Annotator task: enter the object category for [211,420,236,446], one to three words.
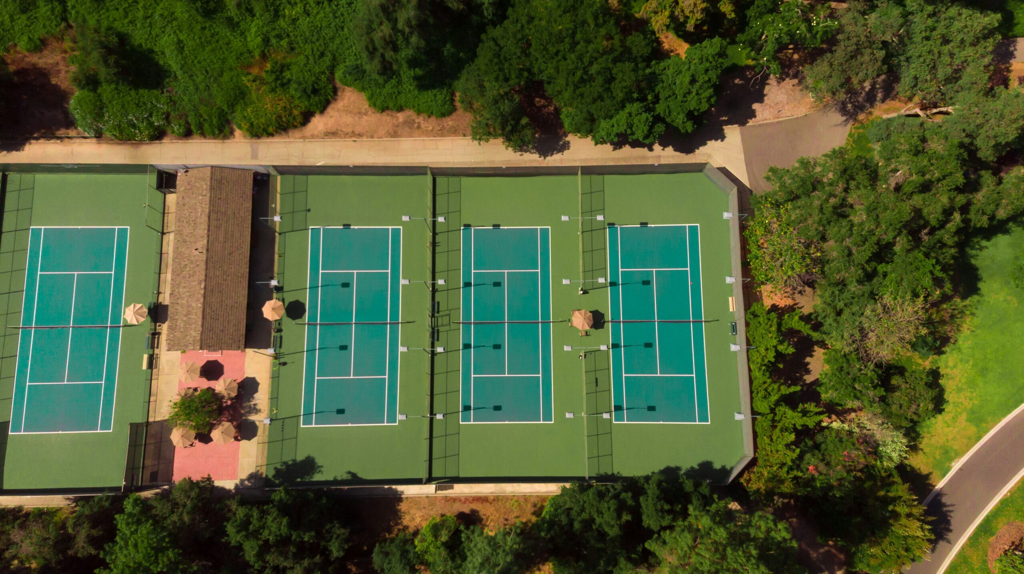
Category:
umbrella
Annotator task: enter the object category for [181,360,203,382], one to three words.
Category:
umbrella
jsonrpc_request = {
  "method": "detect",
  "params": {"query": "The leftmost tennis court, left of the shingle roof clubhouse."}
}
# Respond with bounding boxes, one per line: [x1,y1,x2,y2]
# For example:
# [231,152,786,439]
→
[0,173,164,493]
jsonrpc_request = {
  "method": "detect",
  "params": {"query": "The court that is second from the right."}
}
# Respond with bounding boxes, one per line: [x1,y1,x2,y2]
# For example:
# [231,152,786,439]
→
[429,175,586,481]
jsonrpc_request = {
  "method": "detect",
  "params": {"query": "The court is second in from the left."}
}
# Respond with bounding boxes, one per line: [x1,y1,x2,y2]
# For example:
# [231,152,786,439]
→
[265,176,432,485]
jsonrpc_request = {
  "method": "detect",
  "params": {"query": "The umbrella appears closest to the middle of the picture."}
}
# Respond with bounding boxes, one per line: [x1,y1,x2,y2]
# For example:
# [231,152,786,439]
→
[571,309,593,331]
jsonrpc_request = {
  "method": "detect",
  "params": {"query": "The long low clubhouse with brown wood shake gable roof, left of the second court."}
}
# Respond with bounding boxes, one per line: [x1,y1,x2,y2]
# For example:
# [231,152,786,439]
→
[166,166,253,352]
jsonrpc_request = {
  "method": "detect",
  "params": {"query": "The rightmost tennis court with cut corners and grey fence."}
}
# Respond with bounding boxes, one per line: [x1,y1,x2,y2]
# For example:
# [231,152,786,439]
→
[580,173,745,482]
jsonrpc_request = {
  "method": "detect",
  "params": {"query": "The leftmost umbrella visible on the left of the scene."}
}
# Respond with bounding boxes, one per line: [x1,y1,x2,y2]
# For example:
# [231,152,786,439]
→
[125,303,149,326]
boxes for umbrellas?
[172,426,196,450]
[217,376,239,399]
[211,420,236,446]
[125,303,149,326]
[571,309,593,331]
[263,299,285,321]
[181,360,203,382]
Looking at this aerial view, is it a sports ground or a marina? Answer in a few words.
sports ground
